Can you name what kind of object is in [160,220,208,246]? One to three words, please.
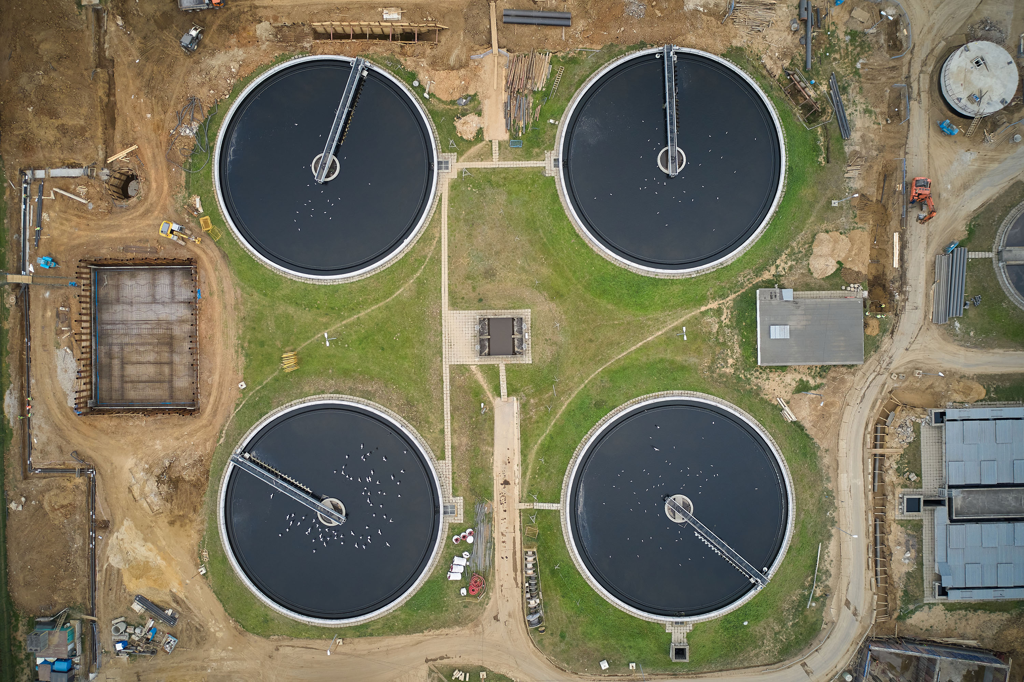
work vehicle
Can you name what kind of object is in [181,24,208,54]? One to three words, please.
work vehicle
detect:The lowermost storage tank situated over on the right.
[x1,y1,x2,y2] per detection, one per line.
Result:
[566,395,793,622]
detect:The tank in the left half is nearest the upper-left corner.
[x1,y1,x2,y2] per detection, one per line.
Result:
[214,54,438,279]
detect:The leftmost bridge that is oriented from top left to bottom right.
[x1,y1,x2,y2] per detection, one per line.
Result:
[228,446,346,524]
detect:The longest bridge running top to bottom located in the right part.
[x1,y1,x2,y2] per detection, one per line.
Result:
[659,42,682,176]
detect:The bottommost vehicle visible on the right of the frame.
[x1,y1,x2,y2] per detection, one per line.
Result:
[908,181,931,228]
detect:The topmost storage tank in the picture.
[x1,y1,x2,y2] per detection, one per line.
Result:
[937,38,1019,119]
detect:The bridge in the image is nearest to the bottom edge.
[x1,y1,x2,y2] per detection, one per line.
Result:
[666,497,772,592]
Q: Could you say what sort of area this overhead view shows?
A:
industrial area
